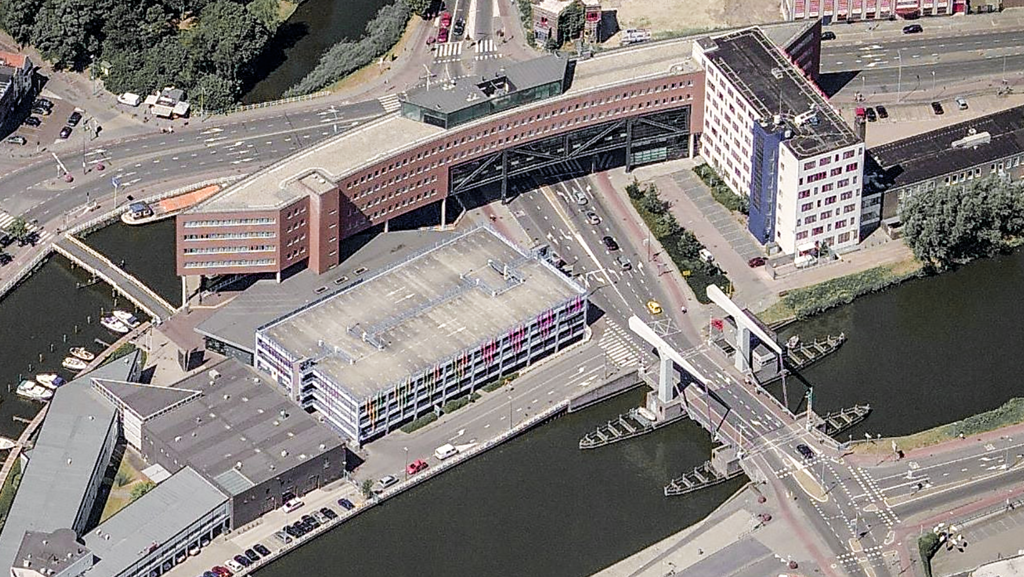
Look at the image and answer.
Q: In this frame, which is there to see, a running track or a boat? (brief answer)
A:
boat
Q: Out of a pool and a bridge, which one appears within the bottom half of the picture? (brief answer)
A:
bridge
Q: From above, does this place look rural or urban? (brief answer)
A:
urban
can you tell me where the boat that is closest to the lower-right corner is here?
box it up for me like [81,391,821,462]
[785,335,801,351]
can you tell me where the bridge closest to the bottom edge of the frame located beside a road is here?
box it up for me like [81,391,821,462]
[628,285,851,479]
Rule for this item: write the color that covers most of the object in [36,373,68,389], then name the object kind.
white boat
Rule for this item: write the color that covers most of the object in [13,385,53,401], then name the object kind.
white boat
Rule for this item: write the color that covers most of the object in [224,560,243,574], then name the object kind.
white car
